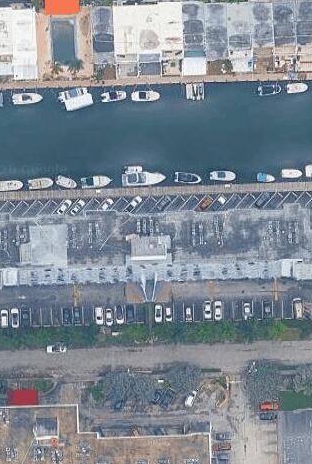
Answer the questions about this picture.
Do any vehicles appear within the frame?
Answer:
Yes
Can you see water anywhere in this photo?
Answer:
Yes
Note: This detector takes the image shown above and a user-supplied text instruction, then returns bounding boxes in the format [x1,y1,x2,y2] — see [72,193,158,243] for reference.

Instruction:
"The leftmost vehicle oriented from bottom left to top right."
[55,198,73,216]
